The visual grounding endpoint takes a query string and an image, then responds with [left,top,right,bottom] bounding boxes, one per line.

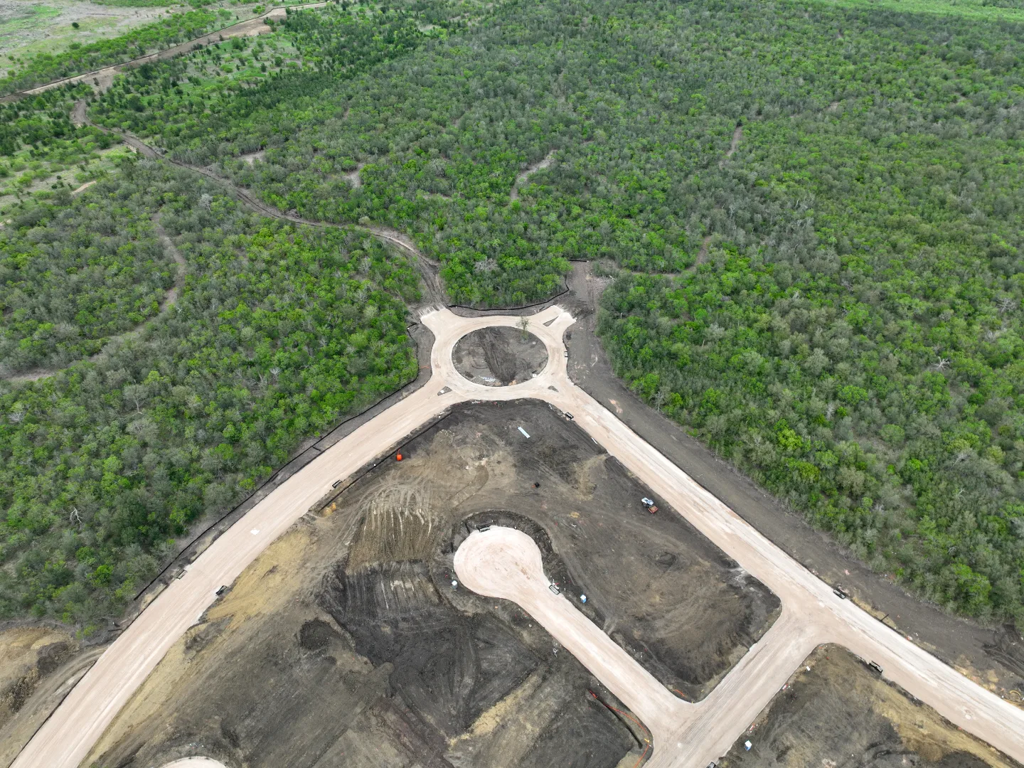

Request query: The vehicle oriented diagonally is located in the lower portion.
[642,496,664,517]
